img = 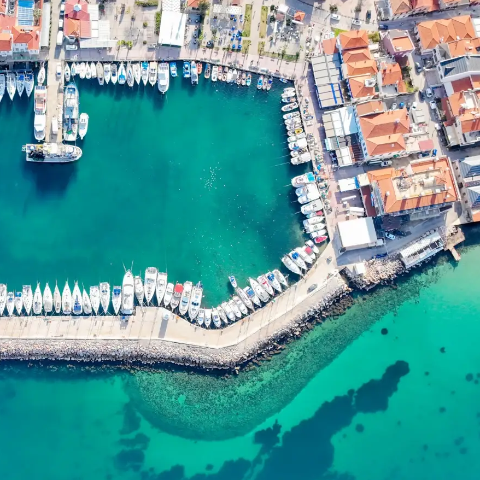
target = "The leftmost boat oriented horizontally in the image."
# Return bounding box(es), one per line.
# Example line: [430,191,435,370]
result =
[26,143,82,162]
